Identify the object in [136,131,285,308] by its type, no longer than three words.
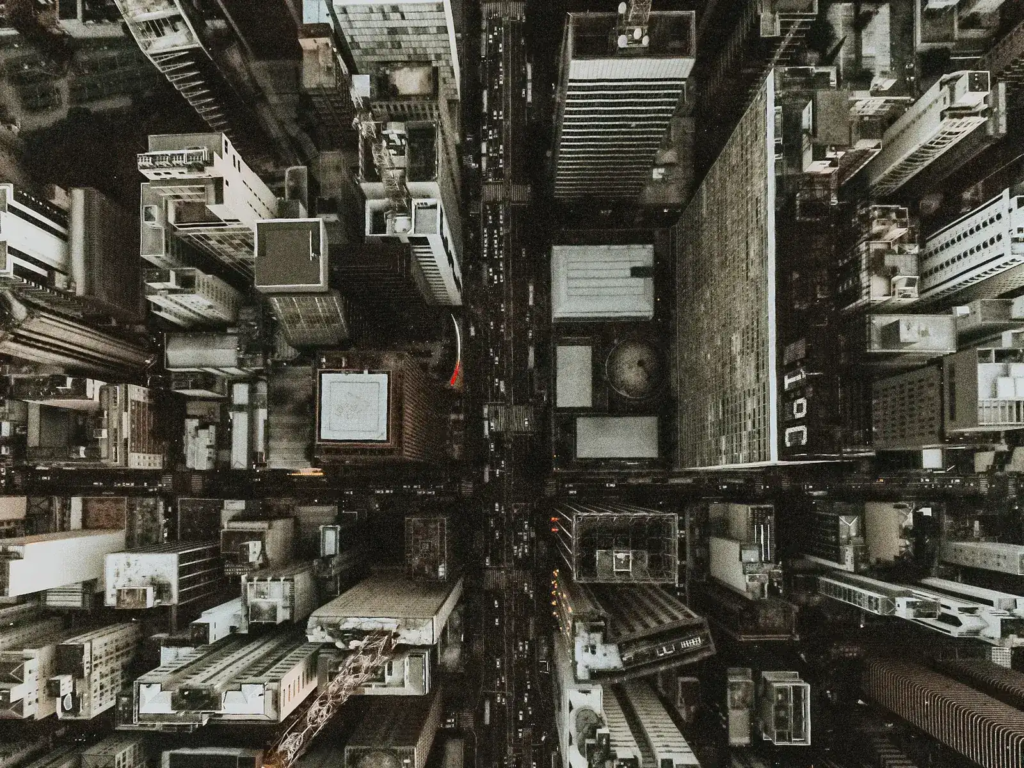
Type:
building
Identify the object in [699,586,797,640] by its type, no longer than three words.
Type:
building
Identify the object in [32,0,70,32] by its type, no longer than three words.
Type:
house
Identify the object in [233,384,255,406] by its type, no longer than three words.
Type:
shed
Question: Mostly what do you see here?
buildings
